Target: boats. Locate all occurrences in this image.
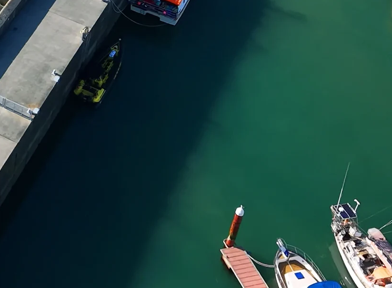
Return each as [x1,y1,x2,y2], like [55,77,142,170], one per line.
[279,246,340,288]
[70,36,126,110]
[129,0,187,35]
[326,179,392,288]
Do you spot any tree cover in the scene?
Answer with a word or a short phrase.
No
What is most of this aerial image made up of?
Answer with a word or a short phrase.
water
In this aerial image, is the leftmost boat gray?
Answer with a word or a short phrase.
No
